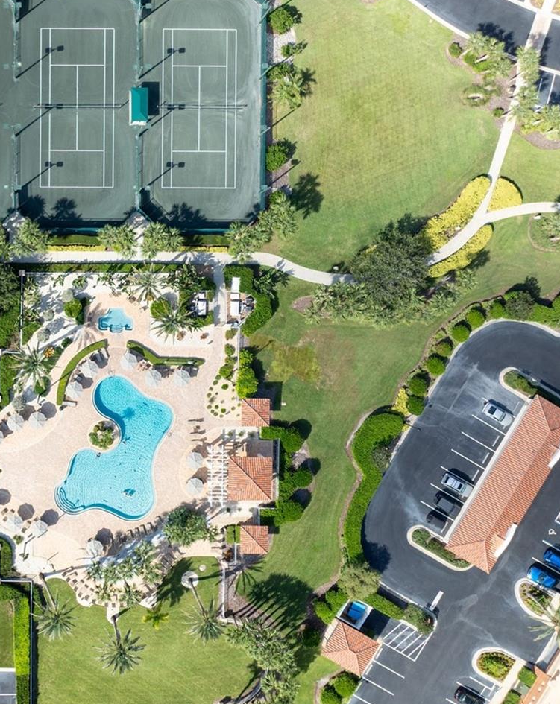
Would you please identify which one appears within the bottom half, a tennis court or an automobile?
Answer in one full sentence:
Visible within the bottom half is an automobile.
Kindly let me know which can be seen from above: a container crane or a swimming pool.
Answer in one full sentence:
The image shows a swimming pool.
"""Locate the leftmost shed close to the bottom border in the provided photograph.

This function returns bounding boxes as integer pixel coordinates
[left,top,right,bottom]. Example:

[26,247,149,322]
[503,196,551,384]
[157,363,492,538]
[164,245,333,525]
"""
[319,614,382,677]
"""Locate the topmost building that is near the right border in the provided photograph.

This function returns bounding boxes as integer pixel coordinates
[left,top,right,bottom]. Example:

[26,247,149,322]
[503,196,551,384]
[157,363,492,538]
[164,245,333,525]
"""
[439,395,560,575]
